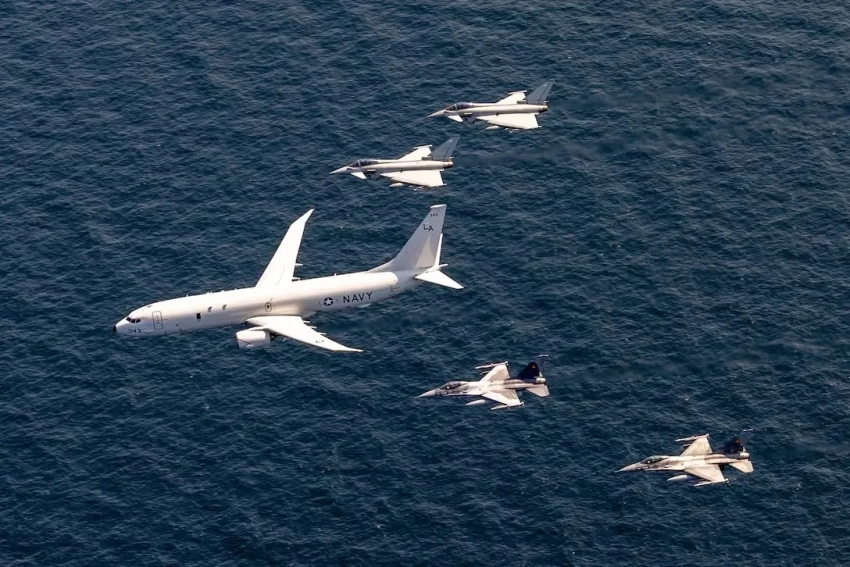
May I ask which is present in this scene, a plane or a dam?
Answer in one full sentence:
Looking from above, you can make out a plane.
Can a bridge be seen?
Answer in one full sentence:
No, no bridge is visible in the view.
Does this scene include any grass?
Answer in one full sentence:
No, no grass is visible.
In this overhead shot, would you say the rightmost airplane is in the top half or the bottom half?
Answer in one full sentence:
It is in the bottom half that the rightmost airplane appears.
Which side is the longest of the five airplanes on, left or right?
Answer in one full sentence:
The longest of the five airplanes is on the left side of the image.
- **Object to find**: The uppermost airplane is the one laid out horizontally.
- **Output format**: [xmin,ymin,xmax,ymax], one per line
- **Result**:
[428,81,554,132]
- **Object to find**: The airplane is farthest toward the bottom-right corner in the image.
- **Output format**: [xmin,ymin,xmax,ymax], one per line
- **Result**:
[618,429,754,486]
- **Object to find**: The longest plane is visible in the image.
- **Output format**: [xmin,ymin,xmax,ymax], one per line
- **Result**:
[113,205,464,352]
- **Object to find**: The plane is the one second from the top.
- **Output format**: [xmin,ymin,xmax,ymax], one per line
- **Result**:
[333,135,460,188]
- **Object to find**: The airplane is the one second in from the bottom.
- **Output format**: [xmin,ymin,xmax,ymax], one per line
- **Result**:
[418,354,550,408]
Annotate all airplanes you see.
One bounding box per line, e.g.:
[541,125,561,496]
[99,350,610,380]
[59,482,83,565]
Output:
[428,81,554,132]
[418,354,550,408]
[113,205,464,352]
[333,135,460,188]
[618,429,754,486]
